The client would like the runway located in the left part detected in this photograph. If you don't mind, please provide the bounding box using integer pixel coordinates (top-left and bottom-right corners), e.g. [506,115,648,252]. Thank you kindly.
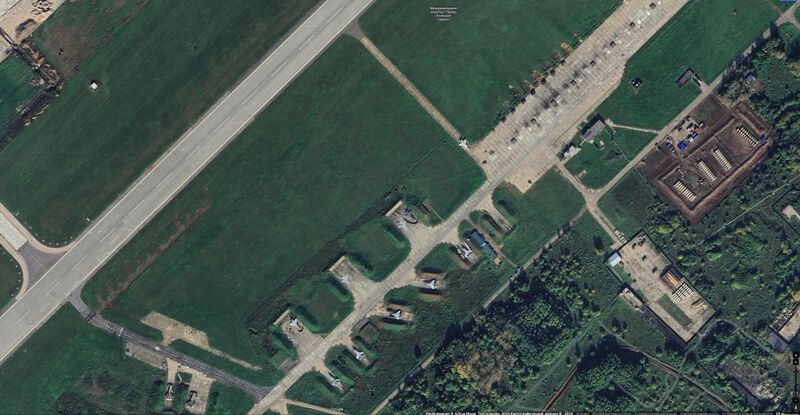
[0,0,373,360]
